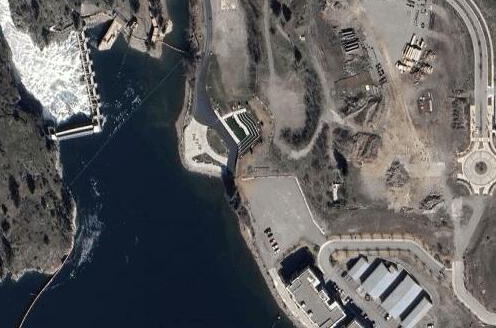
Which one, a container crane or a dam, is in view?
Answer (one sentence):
Looking from above, you can make out a dam.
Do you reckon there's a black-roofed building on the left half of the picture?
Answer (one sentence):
No, no black-roofed building can be made out on the left half of the picture.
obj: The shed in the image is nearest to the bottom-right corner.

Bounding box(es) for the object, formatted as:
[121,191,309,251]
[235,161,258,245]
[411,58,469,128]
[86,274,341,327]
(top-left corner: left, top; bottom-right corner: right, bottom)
[401,298,433,328]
